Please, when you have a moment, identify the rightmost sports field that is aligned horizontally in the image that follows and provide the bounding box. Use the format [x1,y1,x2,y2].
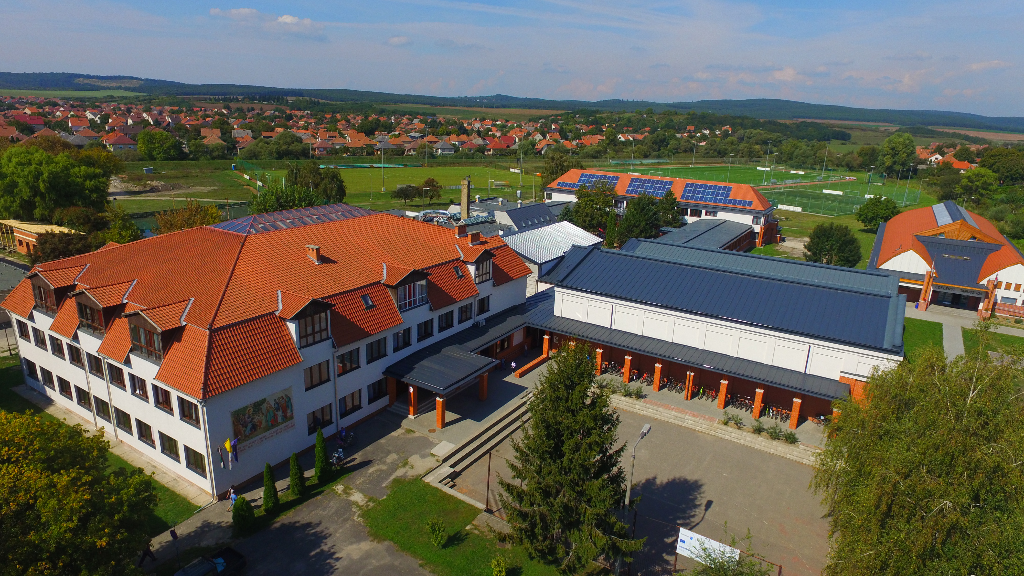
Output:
[760,189,852,215]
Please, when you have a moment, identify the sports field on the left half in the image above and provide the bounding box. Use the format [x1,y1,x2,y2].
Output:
[246,167,554,194]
